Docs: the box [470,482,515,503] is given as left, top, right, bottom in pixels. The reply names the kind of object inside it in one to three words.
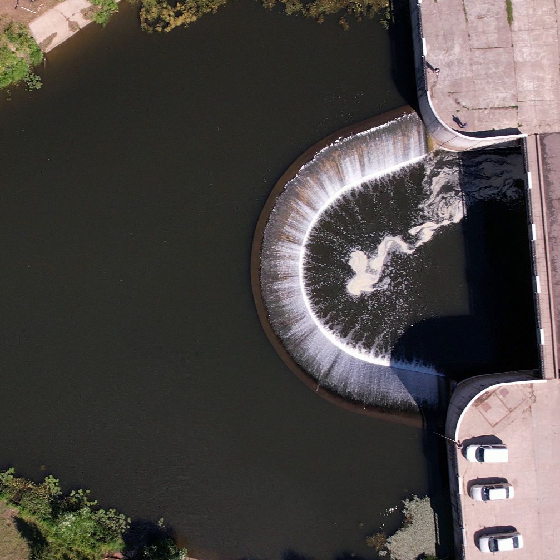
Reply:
car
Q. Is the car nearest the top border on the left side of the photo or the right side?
right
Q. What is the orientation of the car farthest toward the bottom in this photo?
horizontally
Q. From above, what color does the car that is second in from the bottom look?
white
